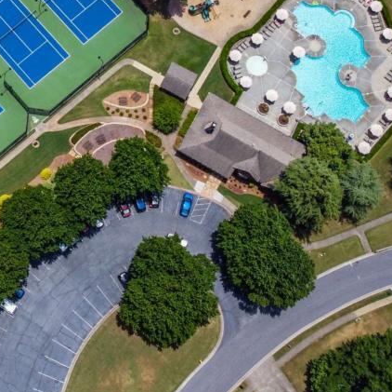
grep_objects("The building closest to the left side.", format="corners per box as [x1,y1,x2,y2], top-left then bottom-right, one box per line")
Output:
[159,62,197,101]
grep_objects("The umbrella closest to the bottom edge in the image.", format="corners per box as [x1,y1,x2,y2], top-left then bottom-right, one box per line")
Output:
[356,142,371,155]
